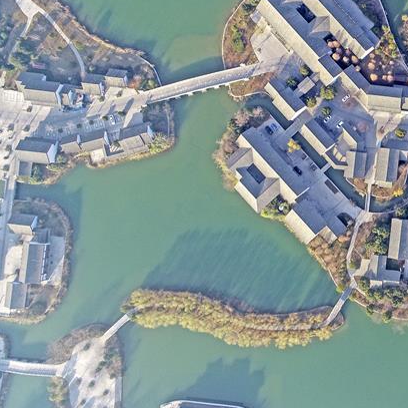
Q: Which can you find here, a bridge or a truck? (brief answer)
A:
bridge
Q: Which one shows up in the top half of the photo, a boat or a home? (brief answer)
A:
home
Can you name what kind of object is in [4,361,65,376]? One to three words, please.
bridge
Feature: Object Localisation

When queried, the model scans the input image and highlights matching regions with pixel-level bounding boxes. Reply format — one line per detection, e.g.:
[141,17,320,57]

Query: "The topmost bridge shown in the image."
[144,55,266,105]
